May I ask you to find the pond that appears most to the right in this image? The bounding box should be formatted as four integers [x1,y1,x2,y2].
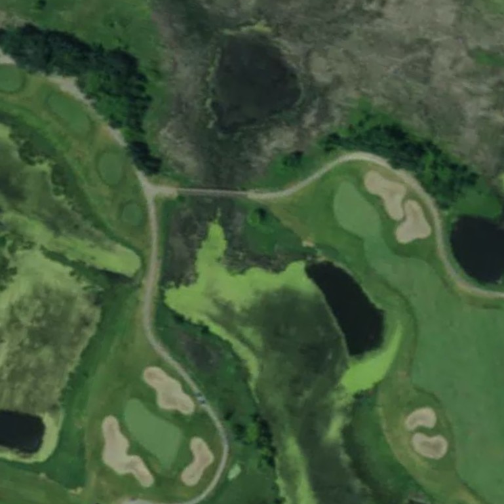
[452,173,504,283]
